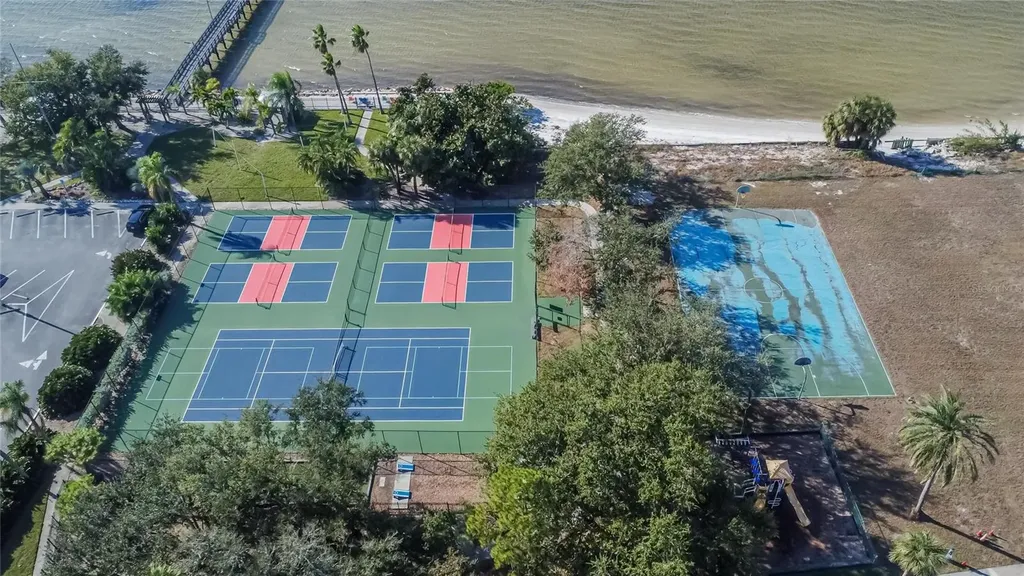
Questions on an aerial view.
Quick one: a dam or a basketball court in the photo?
basketball court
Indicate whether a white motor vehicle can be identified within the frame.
No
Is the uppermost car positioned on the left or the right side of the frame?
left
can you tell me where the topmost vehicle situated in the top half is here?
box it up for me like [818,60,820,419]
[124,207,152,236]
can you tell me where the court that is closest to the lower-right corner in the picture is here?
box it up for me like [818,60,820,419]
[665,209,895,396]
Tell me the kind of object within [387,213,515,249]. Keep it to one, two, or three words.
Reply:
sports court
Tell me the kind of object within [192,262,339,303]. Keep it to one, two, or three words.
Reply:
sports court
